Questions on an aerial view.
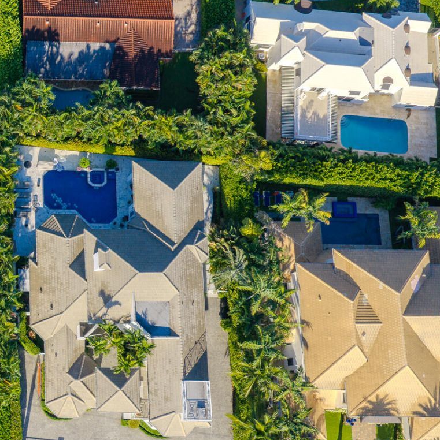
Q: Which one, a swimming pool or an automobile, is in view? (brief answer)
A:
swimming pool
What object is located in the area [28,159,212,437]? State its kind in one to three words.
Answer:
house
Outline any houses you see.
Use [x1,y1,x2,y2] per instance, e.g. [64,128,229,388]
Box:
[269,206,440,440]
[22,0,174,91]
[28,159,212,437]
[243,0,439,143]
